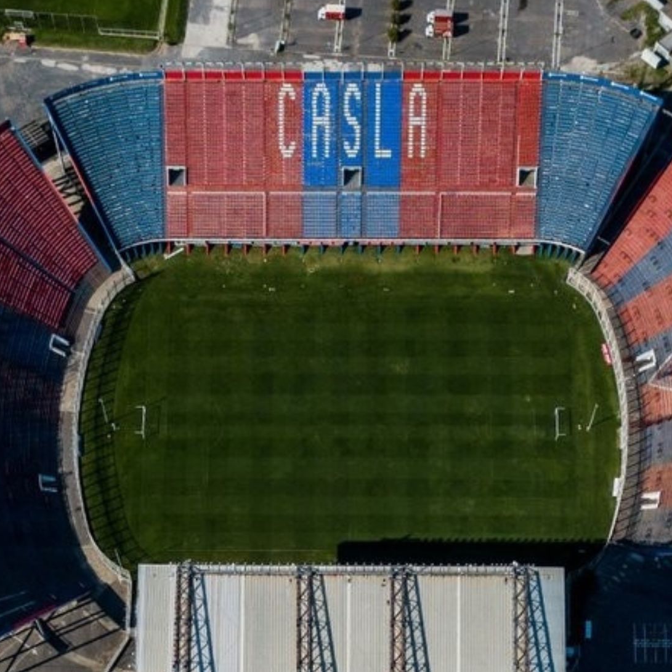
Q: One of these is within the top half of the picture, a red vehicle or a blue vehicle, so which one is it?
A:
red vehicle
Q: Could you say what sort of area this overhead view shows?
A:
sports ground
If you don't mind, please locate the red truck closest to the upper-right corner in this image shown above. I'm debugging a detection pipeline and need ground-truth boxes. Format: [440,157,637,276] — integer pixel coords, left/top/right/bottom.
[427,18,453,41]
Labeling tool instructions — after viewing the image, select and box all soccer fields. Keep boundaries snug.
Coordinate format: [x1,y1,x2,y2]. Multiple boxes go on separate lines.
[79,245,624,626]
[0,0,162,55]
